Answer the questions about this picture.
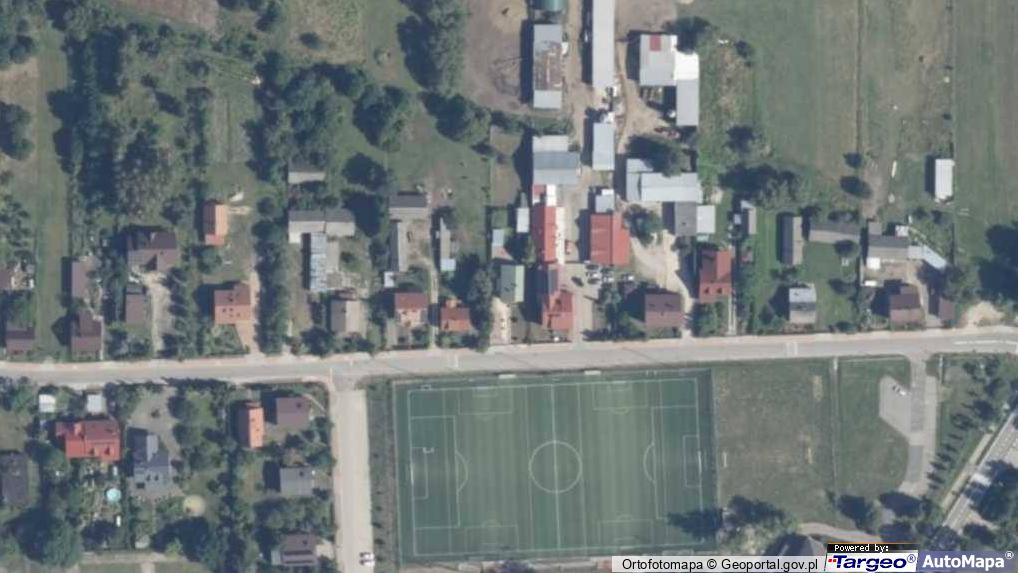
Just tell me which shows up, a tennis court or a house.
house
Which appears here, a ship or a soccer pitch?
soccer pitch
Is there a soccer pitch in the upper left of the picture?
No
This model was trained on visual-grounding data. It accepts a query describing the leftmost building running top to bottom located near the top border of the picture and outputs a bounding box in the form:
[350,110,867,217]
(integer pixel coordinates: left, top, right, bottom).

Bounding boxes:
[534,24,562,108]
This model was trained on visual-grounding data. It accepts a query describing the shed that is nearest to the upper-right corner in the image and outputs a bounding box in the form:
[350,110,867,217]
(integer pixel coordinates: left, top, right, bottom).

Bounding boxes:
[935,159,953,199]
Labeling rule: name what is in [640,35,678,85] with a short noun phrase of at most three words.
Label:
barn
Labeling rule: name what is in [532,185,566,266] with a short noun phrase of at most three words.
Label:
building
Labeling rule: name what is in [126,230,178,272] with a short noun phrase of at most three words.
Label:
house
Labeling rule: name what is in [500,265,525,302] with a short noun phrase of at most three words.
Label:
shed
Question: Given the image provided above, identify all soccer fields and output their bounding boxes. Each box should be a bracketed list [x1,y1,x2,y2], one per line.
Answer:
[393,370,717,562]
